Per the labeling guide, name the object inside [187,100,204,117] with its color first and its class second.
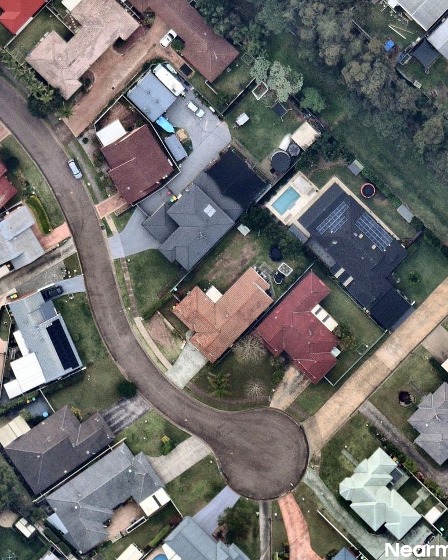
white vehicle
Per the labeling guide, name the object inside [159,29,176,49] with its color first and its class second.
white car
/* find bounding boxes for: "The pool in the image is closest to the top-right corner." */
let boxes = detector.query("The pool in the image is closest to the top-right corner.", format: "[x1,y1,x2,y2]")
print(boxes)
[271,186,302,217]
